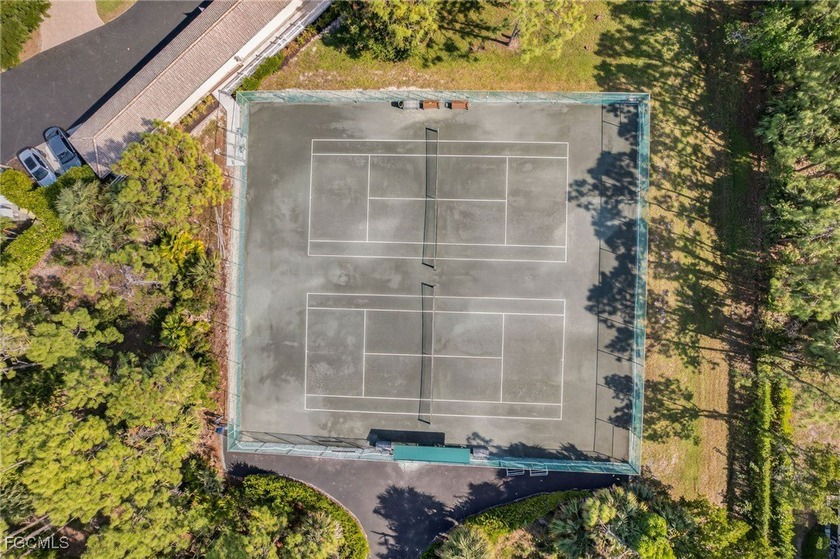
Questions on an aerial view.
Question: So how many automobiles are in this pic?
2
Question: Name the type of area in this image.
sports ground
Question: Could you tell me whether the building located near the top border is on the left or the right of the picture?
left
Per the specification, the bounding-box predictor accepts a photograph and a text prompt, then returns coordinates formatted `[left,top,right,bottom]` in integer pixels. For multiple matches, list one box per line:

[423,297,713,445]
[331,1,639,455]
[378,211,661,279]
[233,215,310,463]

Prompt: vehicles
[19,142,60,188]
[46,126,86,177]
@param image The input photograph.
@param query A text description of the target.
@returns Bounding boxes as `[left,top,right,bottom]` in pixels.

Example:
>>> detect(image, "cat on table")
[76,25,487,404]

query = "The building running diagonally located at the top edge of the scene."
[68,0,308,177]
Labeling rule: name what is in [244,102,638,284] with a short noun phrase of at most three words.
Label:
tennis court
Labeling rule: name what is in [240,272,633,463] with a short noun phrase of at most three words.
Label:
tennis court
